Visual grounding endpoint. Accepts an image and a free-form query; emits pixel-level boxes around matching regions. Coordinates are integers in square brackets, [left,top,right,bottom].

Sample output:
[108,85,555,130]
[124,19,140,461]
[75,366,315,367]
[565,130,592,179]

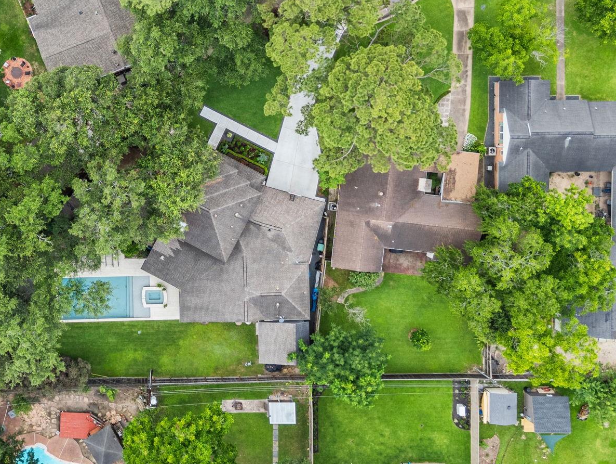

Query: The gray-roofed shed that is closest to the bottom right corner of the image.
[521,391,570,433]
